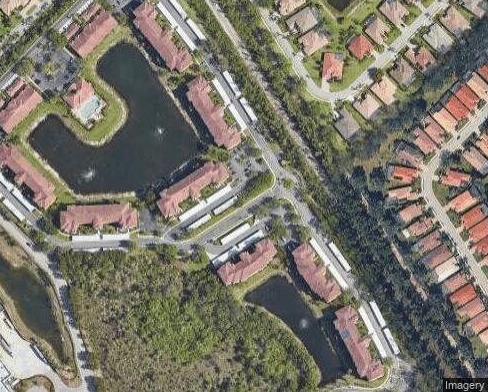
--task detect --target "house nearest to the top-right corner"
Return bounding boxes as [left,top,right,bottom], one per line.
[457,0,488,19]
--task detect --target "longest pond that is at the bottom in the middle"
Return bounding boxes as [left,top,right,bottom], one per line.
[244,275,343,384]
